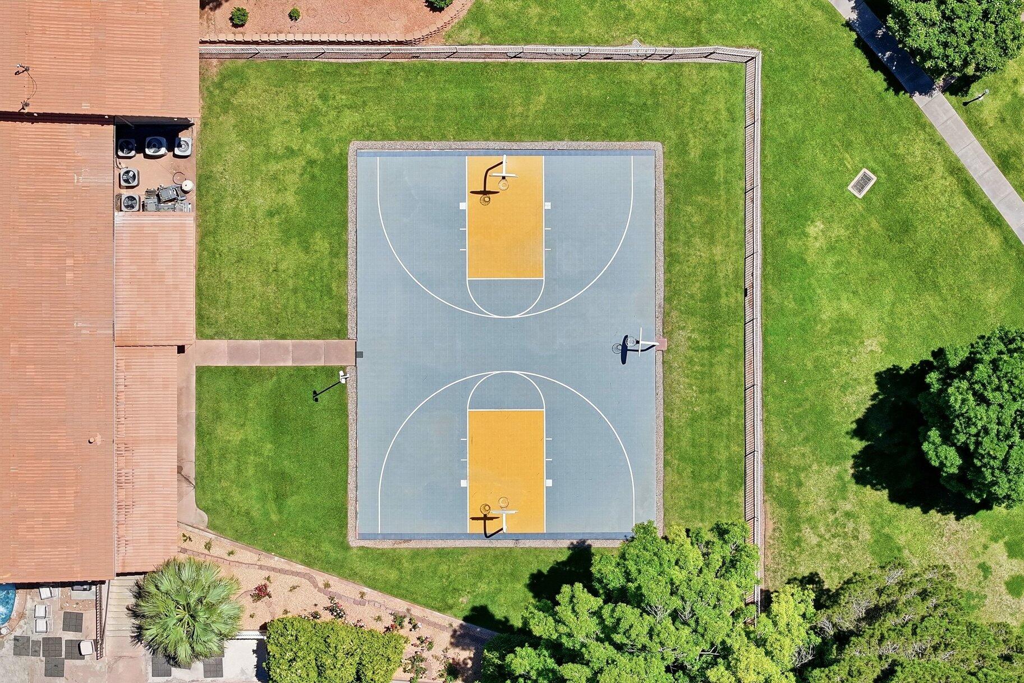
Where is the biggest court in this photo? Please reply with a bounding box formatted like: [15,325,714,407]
[357,150,656,539]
